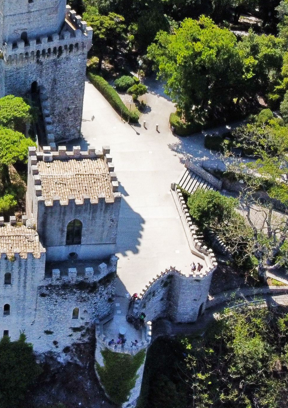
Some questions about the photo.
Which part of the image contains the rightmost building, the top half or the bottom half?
bottom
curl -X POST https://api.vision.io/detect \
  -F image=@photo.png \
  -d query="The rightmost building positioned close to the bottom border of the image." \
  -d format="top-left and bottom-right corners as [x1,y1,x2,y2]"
[89,310,154,407]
